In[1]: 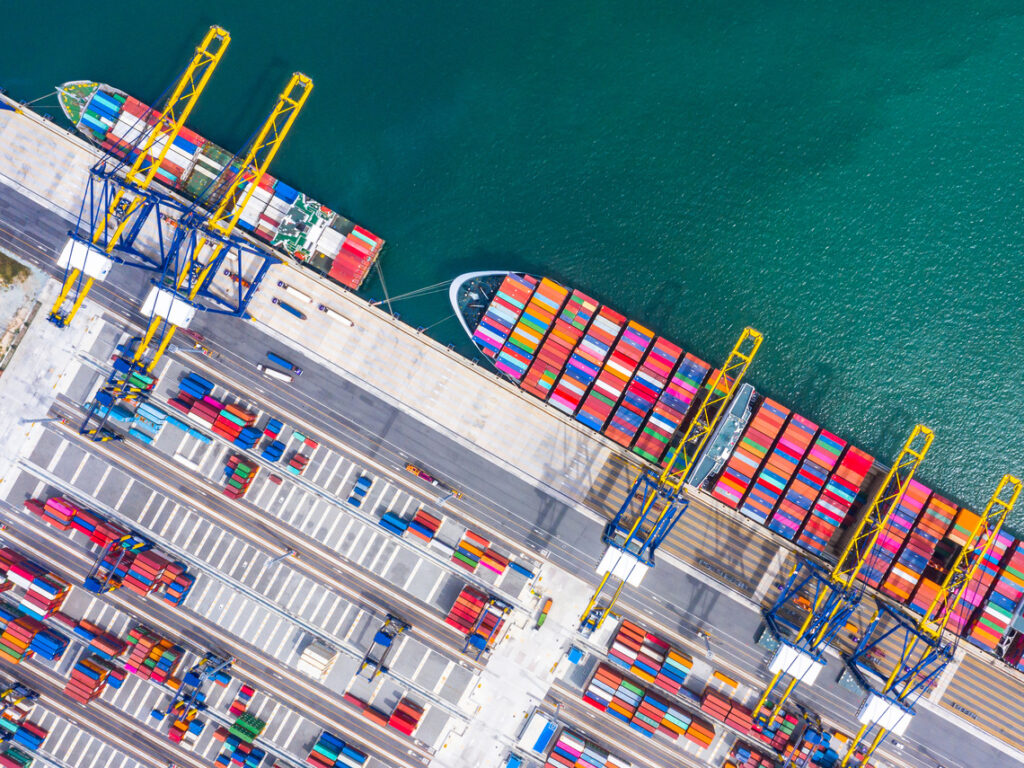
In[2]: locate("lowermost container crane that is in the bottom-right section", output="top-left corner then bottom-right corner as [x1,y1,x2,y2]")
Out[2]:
[776,704,829,768]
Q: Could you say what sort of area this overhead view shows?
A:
port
